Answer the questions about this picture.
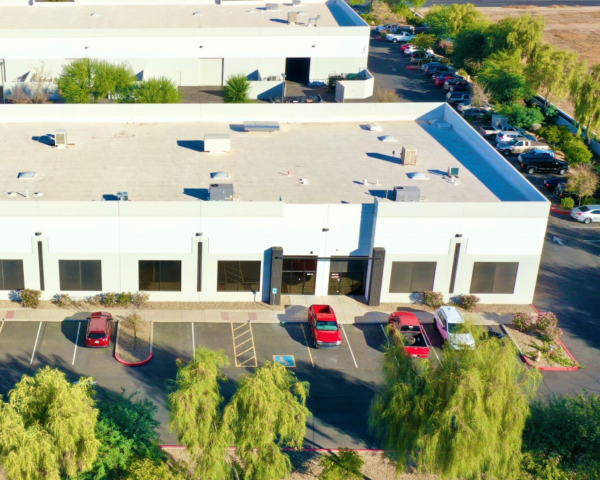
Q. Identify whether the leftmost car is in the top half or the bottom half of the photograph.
bottom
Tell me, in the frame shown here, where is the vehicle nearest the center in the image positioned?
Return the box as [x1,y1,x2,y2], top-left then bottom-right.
[303,296,341,341]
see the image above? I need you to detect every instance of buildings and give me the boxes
[0,0,369,86]
[0,103,551,305]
